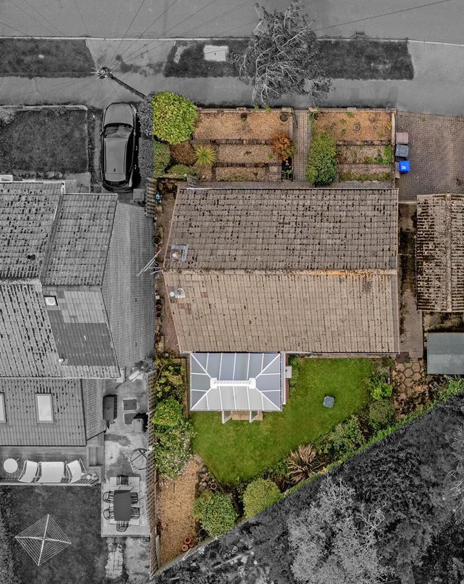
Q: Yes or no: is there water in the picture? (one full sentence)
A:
No, no water is visible.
